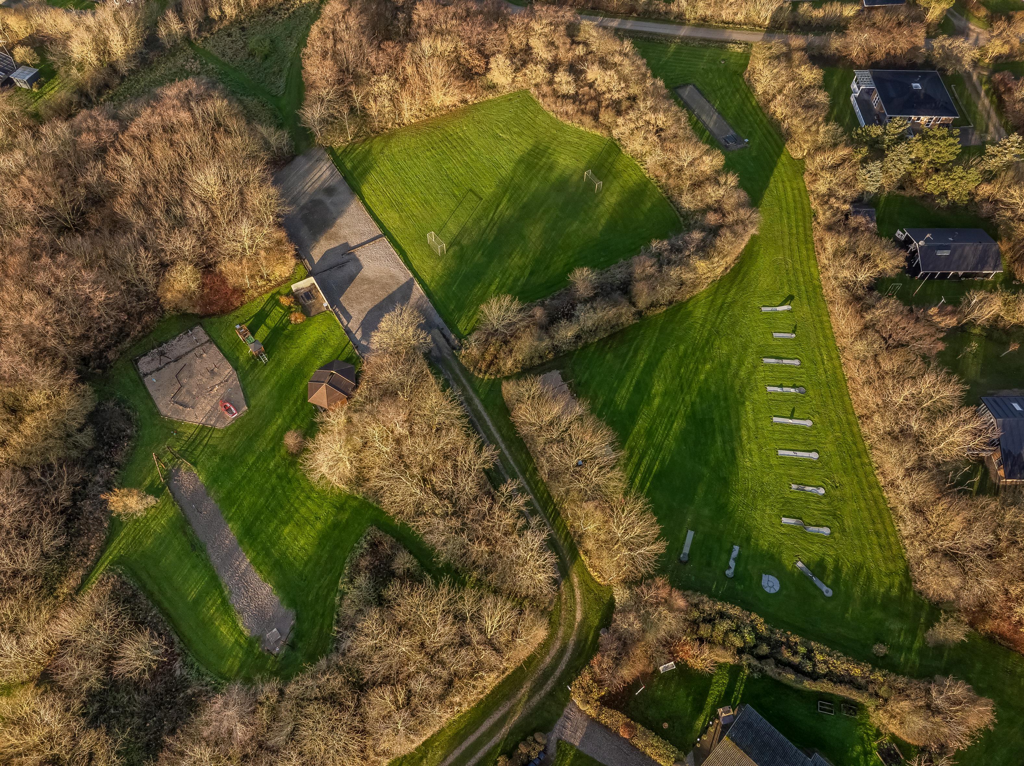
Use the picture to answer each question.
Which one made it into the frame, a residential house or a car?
residential house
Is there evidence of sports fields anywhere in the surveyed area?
Yes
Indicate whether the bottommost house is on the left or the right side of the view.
right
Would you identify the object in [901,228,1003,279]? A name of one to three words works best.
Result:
house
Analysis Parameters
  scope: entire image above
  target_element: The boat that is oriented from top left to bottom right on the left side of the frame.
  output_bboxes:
[219,399,237,418]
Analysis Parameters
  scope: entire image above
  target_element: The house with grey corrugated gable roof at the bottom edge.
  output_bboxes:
[701,703,829,766]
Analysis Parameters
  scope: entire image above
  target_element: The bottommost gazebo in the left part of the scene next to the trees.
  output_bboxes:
[308,360,355,413]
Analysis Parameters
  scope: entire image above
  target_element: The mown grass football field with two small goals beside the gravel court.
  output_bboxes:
[325,90,683,336]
